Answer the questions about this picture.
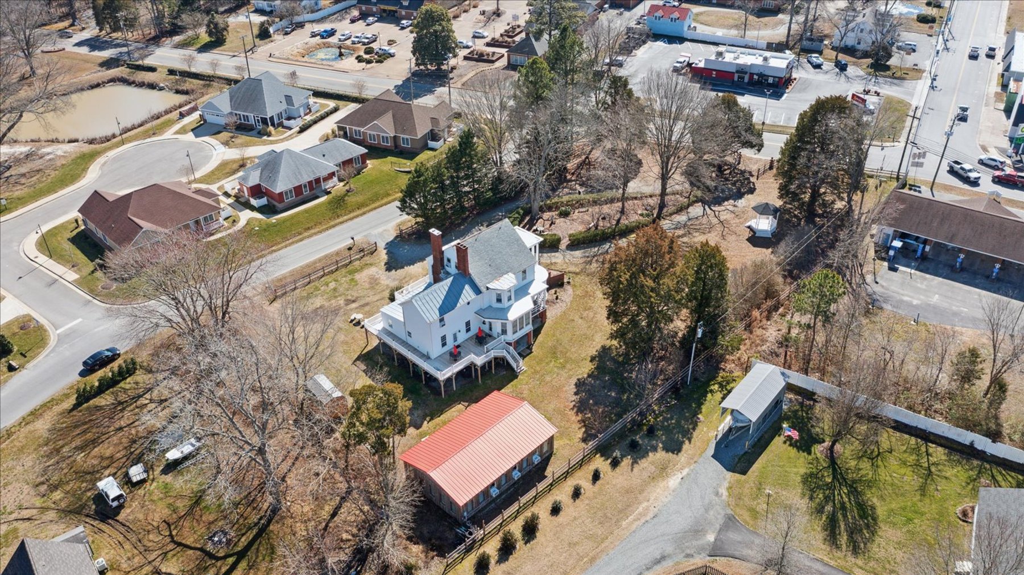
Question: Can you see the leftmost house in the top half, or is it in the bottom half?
bottom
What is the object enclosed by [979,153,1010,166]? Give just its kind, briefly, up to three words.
vehicle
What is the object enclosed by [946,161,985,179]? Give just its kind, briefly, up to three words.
vehicle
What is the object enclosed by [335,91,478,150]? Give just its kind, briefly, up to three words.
house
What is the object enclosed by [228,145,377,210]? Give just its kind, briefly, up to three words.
house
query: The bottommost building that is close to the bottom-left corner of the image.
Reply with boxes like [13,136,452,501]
[4,536,100,575]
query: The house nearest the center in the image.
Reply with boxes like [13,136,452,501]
[361,215,565,399]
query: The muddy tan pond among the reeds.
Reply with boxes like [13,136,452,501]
[0,84,187,141]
